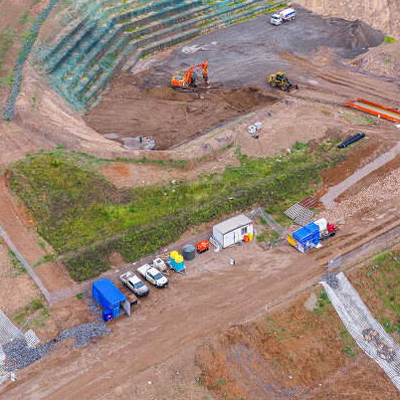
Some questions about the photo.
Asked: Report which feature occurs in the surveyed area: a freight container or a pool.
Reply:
freight container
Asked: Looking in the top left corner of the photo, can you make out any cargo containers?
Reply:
No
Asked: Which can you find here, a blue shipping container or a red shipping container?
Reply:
blue shipping container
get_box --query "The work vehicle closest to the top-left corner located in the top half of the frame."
[168,67,205,94]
